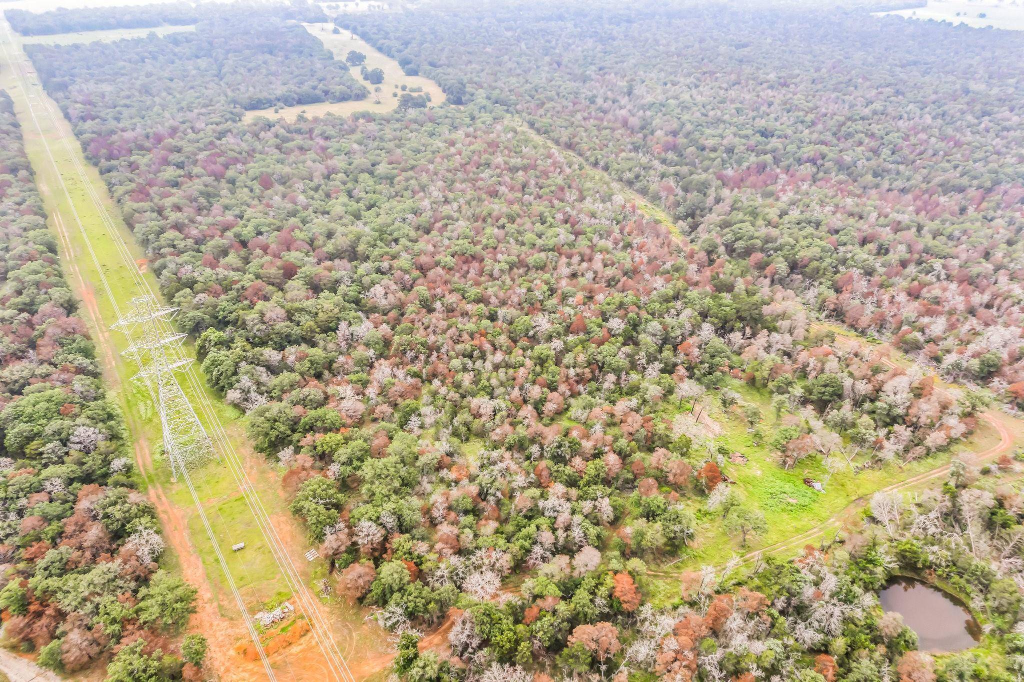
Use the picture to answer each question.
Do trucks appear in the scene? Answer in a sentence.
No, I can see no truck in this picture.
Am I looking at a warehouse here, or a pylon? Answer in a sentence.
Of the two, only a pylon appears.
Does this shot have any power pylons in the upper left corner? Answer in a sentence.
Yes, you'll find a power pylon in the upper left corner.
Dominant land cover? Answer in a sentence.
For the most part, this view shows trees.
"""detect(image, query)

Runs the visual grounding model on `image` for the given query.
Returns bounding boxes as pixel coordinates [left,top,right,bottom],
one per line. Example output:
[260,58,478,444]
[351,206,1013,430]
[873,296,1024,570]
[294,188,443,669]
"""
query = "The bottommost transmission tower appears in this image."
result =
[111,303,225,488]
